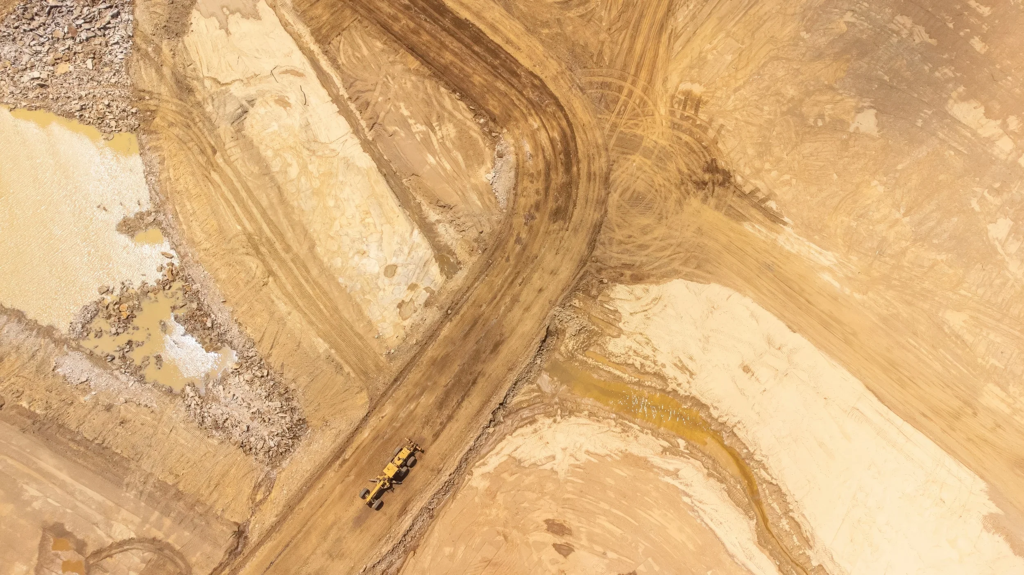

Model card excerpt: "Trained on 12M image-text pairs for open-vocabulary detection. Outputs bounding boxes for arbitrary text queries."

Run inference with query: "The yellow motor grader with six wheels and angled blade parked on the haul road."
[358,435,423,509]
